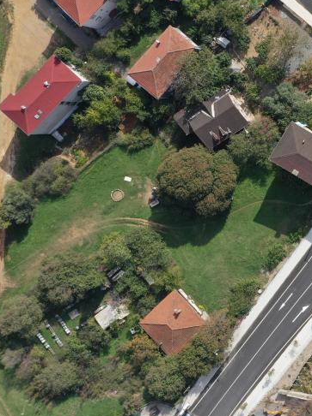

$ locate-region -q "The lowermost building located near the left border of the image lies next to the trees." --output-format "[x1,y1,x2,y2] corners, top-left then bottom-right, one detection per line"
[0,55,101,134]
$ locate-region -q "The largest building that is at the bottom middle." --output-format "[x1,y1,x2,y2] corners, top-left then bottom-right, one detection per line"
[139,287,210,356]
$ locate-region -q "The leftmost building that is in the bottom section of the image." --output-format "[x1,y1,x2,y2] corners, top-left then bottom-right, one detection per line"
[93,303,136,329]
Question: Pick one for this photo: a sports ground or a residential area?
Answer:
residential area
